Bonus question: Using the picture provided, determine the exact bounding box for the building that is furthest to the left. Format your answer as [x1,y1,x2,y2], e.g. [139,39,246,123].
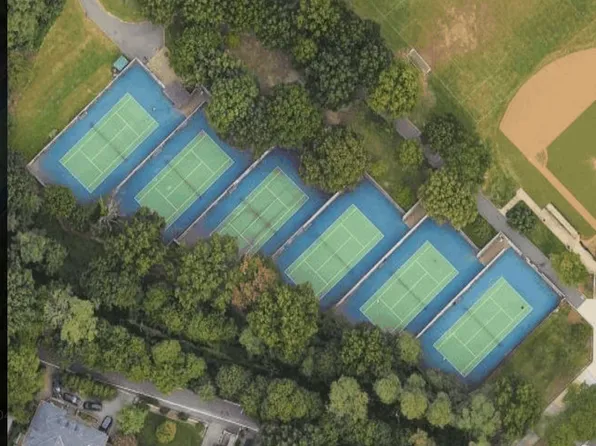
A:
[19,401,108,446]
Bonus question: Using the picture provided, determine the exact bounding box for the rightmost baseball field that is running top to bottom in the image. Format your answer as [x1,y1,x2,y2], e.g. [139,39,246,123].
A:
[499,48,596,247]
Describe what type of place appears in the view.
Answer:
sports ground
